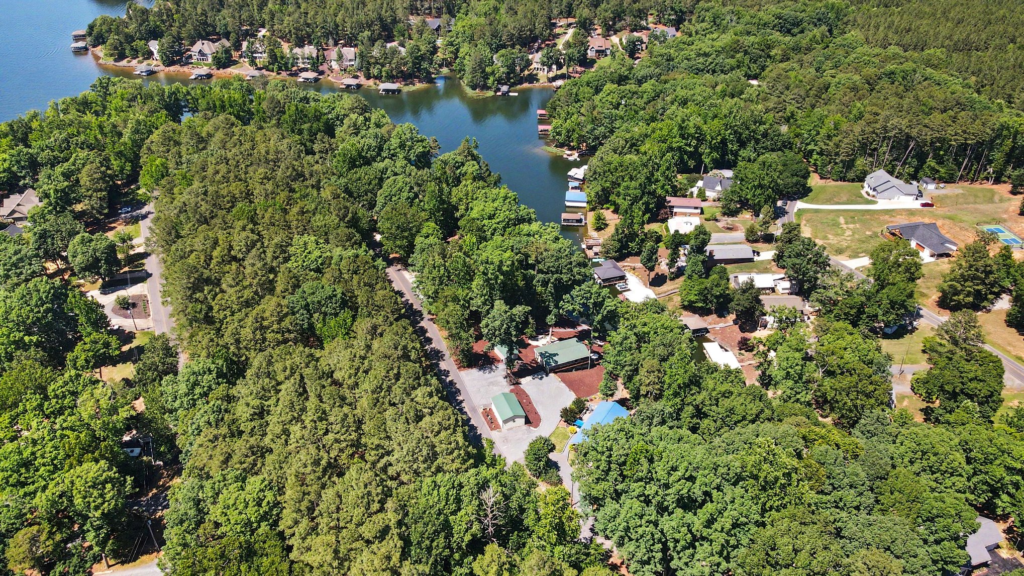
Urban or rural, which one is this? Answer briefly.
rural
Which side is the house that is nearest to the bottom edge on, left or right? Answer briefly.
right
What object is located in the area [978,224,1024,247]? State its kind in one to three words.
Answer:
sports court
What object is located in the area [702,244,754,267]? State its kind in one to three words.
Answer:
house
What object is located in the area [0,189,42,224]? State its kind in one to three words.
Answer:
house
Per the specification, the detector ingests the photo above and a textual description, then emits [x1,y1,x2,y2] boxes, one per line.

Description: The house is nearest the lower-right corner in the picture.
[945,519,1004,575]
